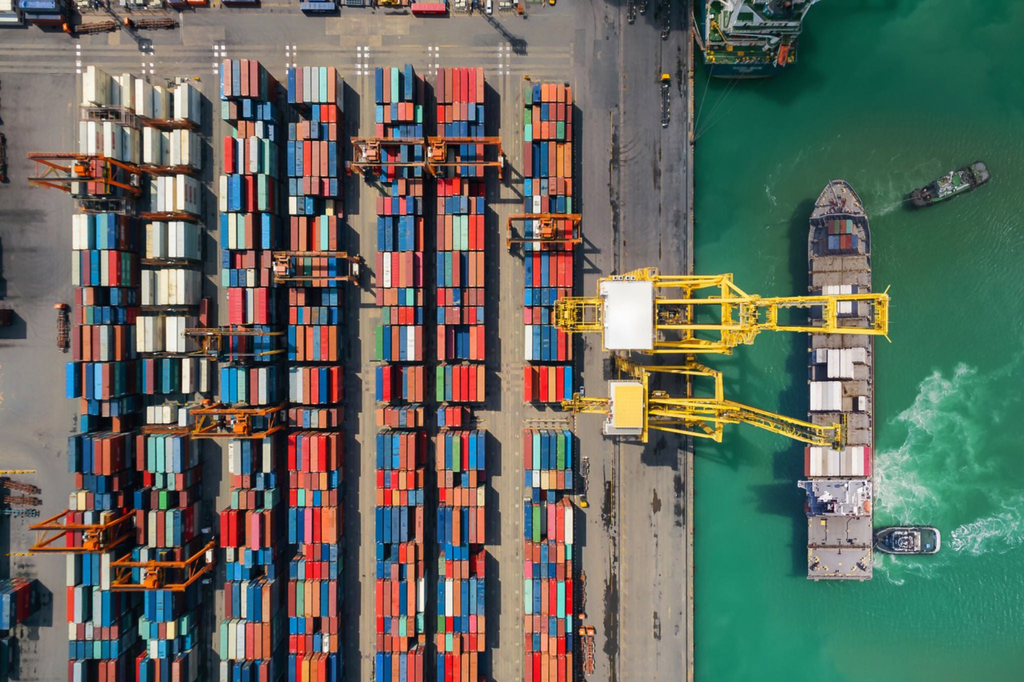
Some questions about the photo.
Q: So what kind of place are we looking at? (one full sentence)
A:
This looks like a port.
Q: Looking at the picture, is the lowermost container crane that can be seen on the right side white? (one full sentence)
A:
No, the color of the lowermost container crane that can be seen on the right side is yellow.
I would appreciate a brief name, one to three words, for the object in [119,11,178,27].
work vehicle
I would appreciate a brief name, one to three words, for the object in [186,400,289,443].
crane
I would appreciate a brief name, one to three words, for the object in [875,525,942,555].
boat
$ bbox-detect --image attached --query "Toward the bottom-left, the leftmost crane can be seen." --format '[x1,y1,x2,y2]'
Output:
[26,506,139,558]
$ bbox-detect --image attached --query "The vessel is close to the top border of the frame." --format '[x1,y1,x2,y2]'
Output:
[691,0,819,79]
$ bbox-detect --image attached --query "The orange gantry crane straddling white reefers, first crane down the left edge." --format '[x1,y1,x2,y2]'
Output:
[25,150,143,201]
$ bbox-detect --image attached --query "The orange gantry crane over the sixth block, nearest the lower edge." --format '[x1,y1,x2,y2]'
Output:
[107,537,220,594]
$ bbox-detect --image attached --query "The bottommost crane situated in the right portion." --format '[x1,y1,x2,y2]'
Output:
[564,354,848,450]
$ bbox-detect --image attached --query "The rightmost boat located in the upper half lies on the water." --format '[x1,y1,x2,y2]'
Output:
[907,159,994,205]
